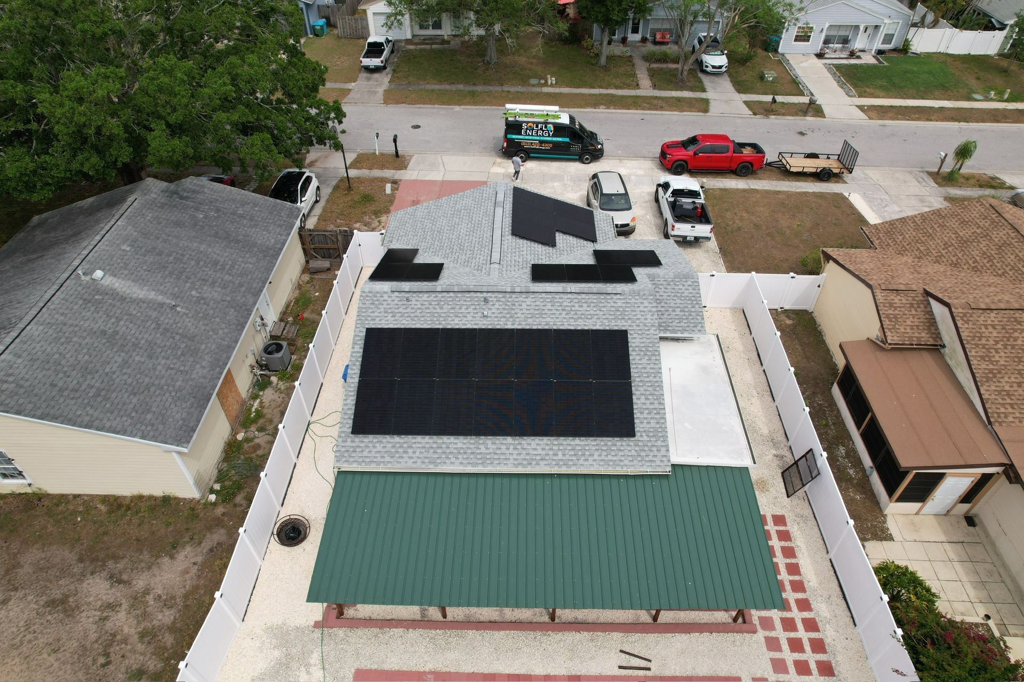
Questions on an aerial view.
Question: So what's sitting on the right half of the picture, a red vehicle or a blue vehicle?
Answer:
red vehicle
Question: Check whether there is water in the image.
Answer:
No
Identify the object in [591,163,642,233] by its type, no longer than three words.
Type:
car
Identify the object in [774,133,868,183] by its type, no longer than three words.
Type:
trailer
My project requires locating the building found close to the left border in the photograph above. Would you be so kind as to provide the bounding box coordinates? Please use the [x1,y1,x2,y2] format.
[0,176,303,492]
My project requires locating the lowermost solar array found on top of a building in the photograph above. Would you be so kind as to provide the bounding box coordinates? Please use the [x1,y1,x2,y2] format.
[352,327,634,437]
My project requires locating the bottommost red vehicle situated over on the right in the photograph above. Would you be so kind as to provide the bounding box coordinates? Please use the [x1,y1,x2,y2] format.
[658,128,776,176]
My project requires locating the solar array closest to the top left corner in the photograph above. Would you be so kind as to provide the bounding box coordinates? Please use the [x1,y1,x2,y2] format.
[368,249,444,280]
